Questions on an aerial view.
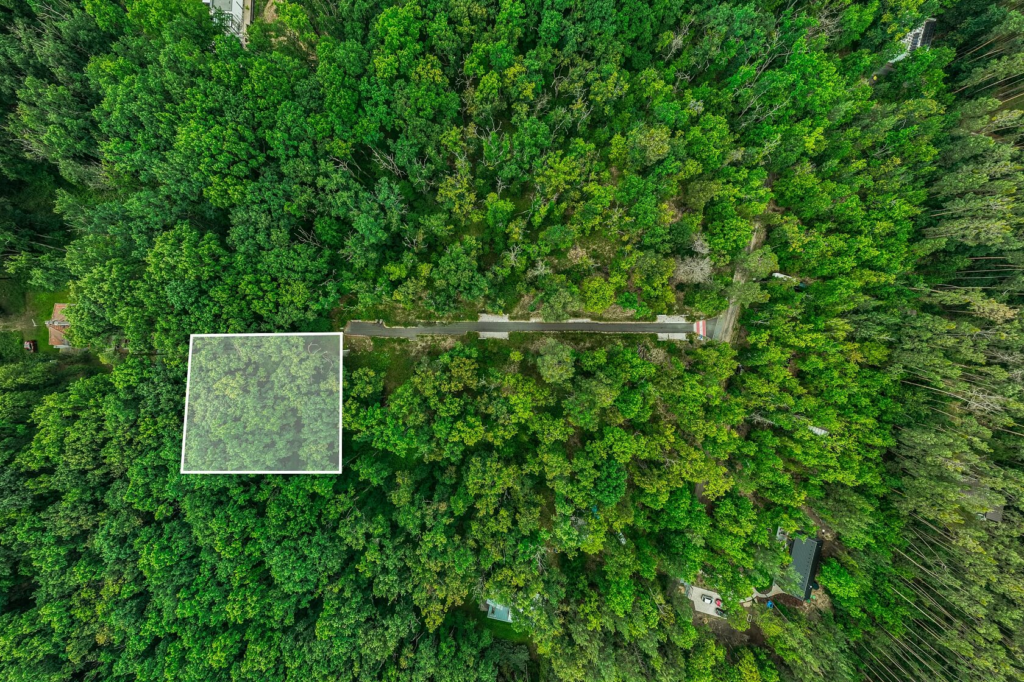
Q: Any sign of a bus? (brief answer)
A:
No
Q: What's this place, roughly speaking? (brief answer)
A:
forest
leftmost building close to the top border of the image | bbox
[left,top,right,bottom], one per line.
[206,0,249,56]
